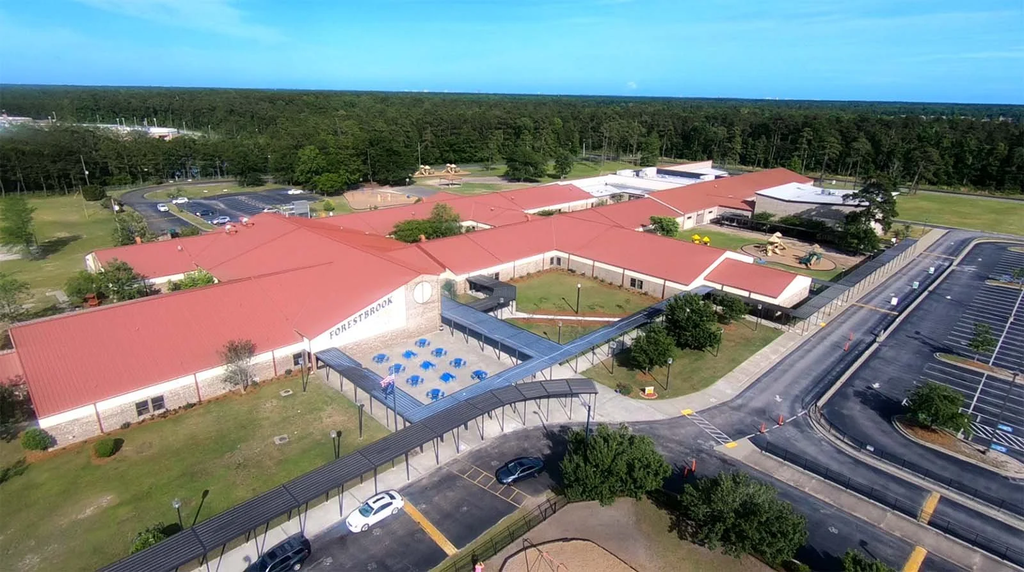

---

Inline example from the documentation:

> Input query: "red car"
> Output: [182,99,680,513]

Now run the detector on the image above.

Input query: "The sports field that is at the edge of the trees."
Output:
[856,185,1024,235]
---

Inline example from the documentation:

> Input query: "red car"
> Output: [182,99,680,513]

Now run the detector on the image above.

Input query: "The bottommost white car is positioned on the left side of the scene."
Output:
[346,485,407,529]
